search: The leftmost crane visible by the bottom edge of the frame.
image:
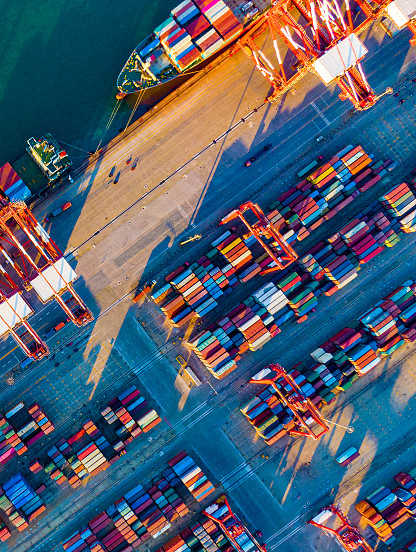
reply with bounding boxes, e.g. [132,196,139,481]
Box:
[197,491,271,552]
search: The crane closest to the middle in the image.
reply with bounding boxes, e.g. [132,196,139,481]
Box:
[211,203,298,279]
